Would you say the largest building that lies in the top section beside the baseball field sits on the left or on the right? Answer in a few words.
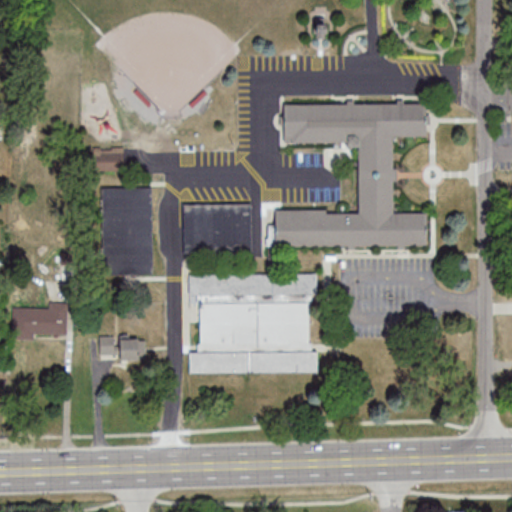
right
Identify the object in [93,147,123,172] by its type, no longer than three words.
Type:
building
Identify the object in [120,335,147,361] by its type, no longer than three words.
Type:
house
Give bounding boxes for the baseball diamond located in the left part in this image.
[68,0,275,126]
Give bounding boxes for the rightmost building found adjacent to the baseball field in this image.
[266,99,428,247]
